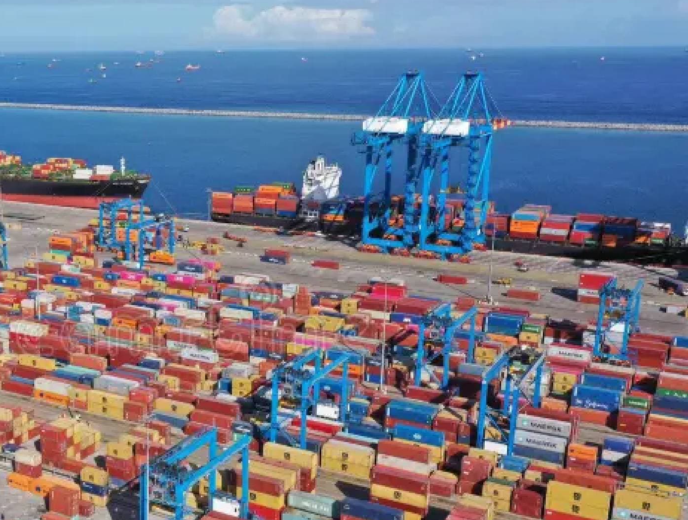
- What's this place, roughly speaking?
port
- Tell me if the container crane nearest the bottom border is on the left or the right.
left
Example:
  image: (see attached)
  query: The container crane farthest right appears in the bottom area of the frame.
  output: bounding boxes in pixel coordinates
[582,272,644,356]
